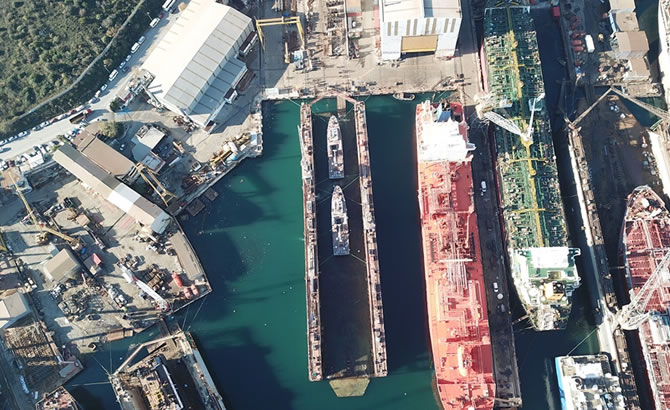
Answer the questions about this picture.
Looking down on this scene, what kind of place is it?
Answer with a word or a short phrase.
port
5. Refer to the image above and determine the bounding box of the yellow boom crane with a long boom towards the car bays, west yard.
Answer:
[6,169,47,243]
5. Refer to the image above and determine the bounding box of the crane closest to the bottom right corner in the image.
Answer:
[607,248,670,330]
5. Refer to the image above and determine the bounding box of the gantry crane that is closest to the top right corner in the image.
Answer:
[480,95,525,147]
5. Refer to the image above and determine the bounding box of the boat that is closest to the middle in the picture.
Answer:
[330,184,349,256]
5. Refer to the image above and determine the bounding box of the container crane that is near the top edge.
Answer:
[254,13,304,52]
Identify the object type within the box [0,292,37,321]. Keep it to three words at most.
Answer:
shed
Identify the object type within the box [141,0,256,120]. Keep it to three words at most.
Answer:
building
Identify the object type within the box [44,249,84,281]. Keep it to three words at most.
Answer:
shed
